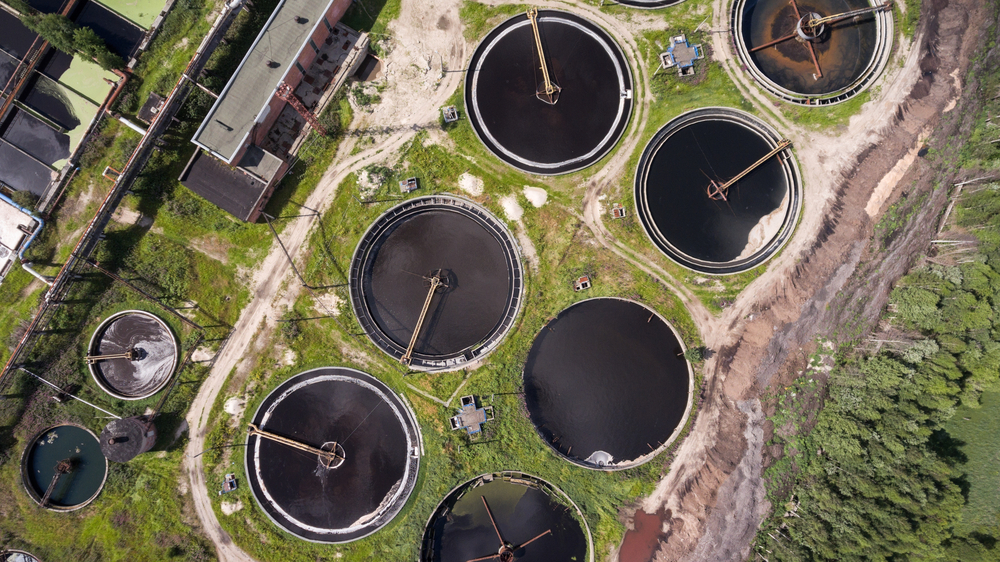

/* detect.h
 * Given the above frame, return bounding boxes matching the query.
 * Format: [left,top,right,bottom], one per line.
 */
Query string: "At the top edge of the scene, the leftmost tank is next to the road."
[465,8,633,177]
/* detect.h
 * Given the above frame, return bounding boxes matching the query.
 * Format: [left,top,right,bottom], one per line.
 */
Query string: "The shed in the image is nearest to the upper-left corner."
[136,92,164,121]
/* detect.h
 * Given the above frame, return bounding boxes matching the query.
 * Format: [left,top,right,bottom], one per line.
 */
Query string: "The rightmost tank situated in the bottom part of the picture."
[522,297,694,470]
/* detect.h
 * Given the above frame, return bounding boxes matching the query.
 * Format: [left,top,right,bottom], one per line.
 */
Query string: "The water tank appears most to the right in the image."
[728,0,894,108]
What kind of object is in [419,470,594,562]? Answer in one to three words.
water tank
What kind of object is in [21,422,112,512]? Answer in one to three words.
water tank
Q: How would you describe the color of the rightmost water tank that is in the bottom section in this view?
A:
black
